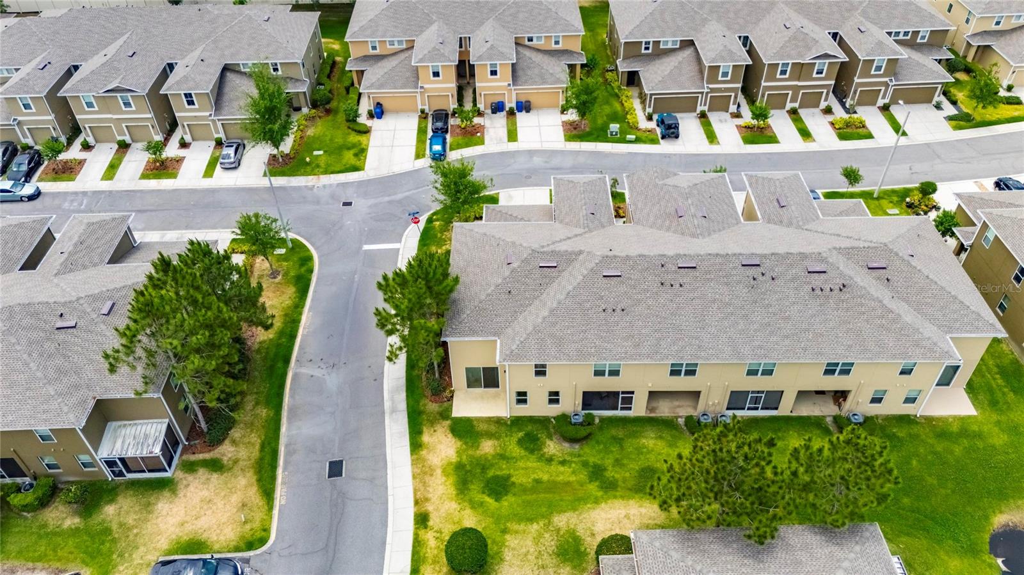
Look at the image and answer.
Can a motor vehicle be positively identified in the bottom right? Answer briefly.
No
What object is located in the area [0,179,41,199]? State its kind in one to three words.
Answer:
car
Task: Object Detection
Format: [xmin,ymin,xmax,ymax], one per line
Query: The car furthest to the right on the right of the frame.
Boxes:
[996,172,1024,193]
